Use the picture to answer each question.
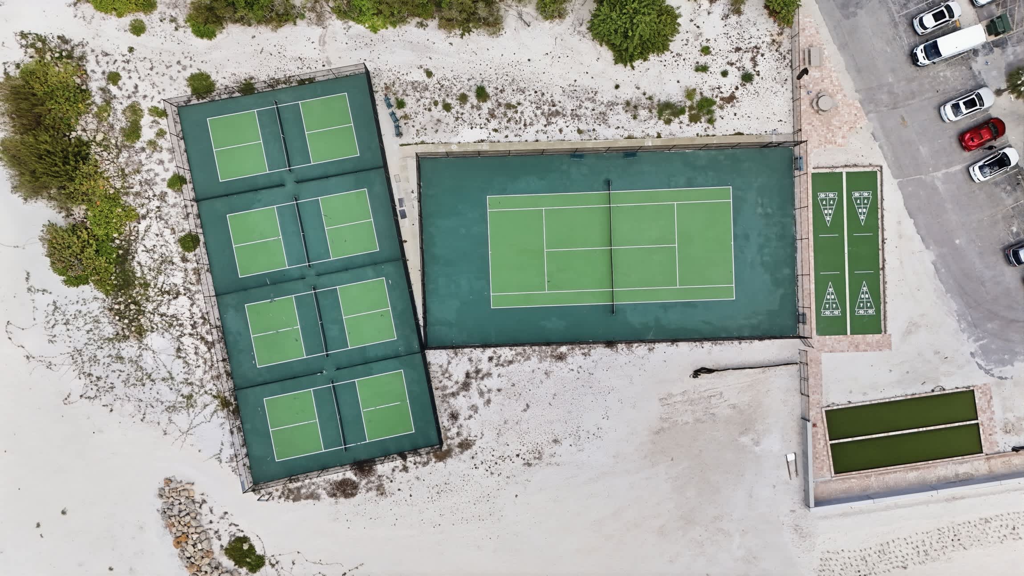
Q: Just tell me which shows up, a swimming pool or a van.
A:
van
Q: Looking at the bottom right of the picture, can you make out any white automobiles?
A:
No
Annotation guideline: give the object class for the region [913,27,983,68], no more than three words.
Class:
van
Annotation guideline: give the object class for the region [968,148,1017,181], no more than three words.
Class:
car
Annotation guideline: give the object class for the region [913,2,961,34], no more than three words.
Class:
car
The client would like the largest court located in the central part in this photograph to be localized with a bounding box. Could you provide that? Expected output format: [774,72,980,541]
[419,147,799,346]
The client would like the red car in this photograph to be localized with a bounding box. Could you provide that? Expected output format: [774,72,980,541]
[958,118,1006,151]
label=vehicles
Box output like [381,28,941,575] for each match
[970,0,990,6]
[913,27,983,68]
[1006,244,1024,266]
[968,148,1017,181]
[913,2,961,34]
[940,91,991,123]
[958,118,1006,151]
